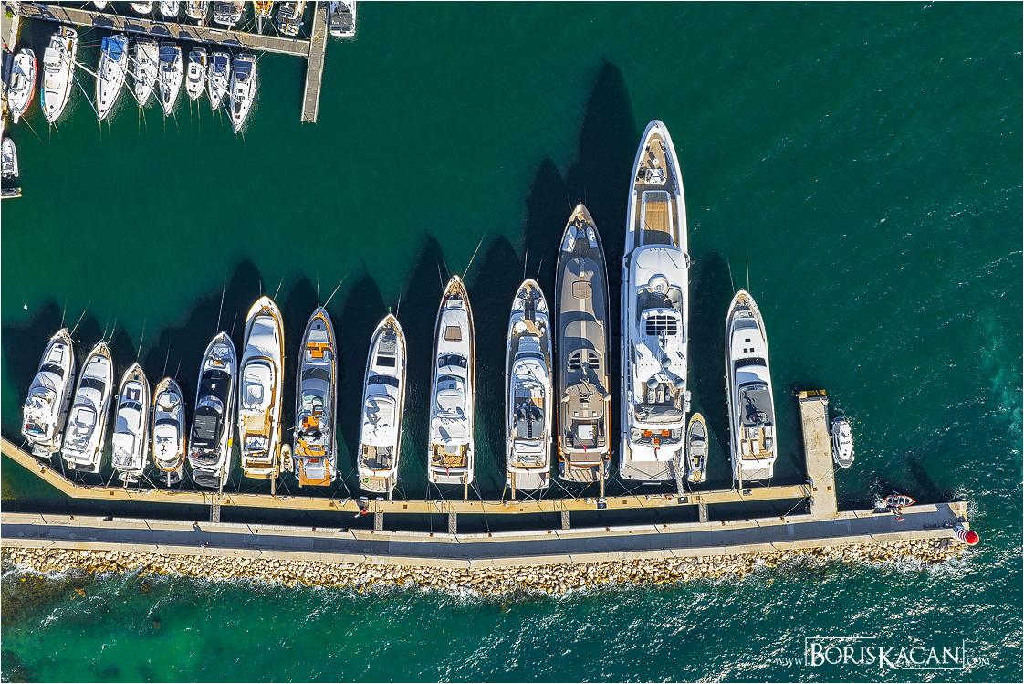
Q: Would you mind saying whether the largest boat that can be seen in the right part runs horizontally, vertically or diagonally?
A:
vertically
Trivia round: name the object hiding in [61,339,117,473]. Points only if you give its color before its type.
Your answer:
white boat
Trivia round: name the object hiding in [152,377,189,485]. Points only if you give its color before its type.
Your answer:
white boat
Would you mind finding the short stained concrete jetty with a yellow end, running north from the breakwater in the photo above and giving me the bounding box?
[797,389,837,518]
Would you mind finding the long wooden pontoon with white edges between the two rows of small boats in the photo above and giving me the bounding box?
[22,3,310,58]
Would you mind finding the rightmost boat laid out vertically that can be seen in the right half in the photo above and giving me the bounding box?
[829,416,855,468]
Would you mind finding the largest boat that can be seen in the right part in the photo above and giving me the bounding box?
[616,120,694,494]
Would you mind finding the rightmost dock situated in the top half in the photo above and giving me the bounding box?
[302,0,329,123]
